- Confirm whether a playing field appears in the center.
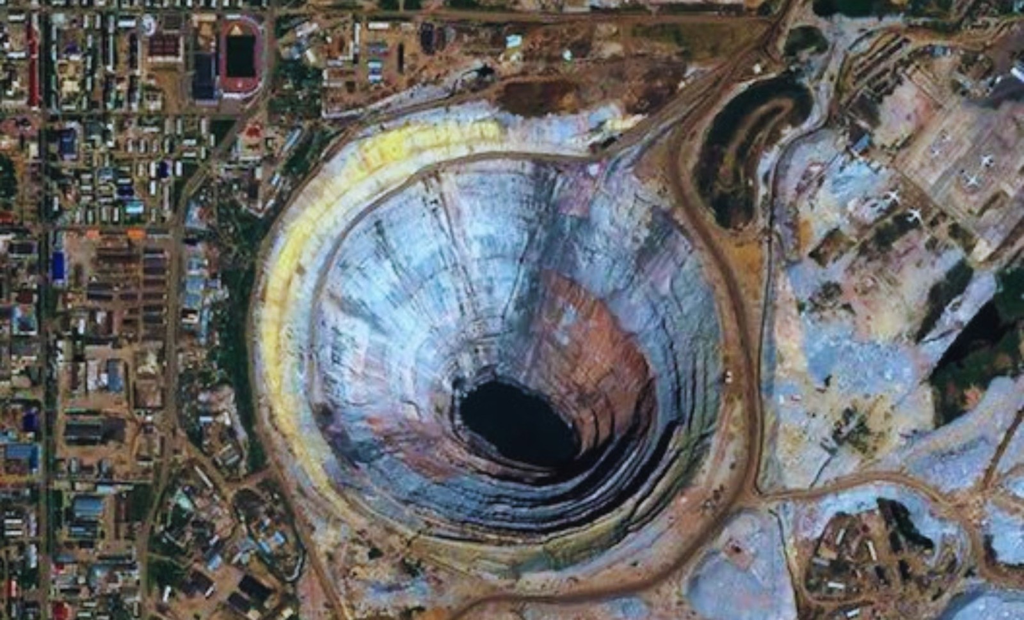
No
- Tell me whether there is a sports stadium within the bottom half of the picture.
No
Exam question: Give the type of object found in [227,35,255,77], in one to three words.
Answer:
sports field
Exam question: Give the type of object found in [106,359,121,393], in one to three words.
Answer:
building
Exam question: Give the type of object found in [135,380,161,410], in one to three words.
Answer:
building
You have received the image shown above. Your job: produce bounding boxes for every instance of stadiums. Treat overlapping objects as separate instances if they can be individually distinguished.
[219,12,264,101]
